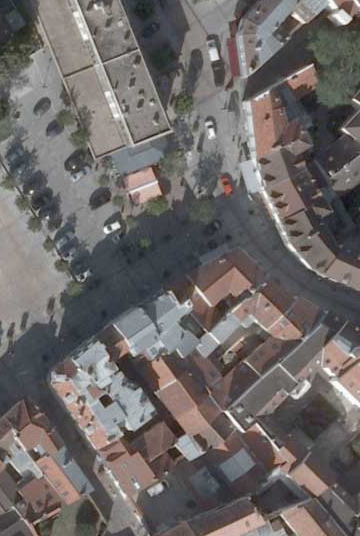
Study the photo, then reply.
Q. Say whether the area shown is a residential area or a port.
residential area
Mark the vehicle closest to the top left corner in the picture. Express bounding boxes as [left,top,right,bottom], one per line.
[33,100,49,116]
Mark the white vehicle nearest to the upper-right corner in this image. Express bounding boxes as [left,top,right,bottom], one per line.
[206,38,219,61]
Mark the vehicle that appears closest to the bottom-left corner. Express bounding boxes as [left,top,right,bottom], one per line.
[142,482,165,500]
